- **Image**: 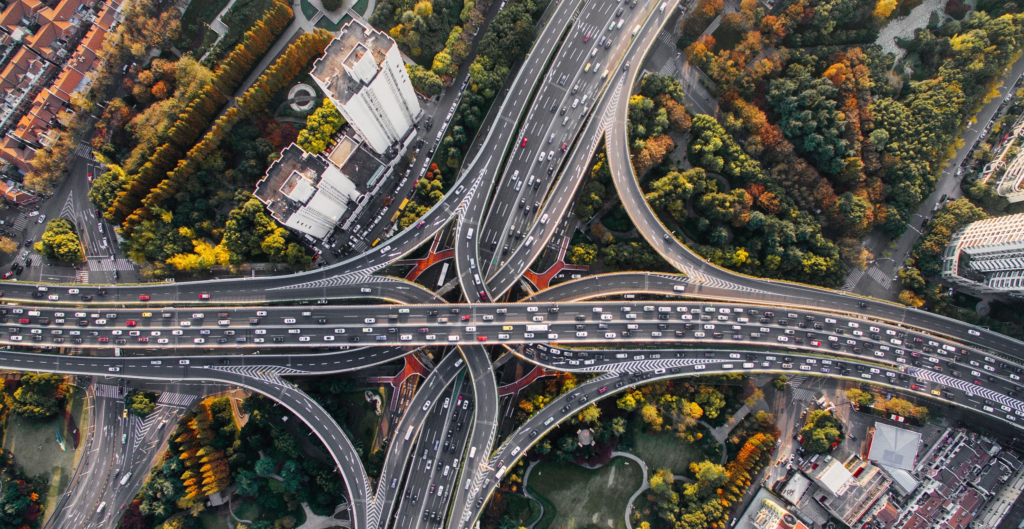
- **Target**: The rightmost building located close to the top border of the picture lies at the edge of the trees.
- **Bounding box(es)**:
[310,19,418,153]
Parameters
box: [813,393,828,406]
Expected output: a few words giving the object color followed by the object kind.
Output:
white vehicle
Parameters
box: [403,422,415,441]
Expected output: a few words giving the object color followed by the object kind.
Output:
white vehicle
